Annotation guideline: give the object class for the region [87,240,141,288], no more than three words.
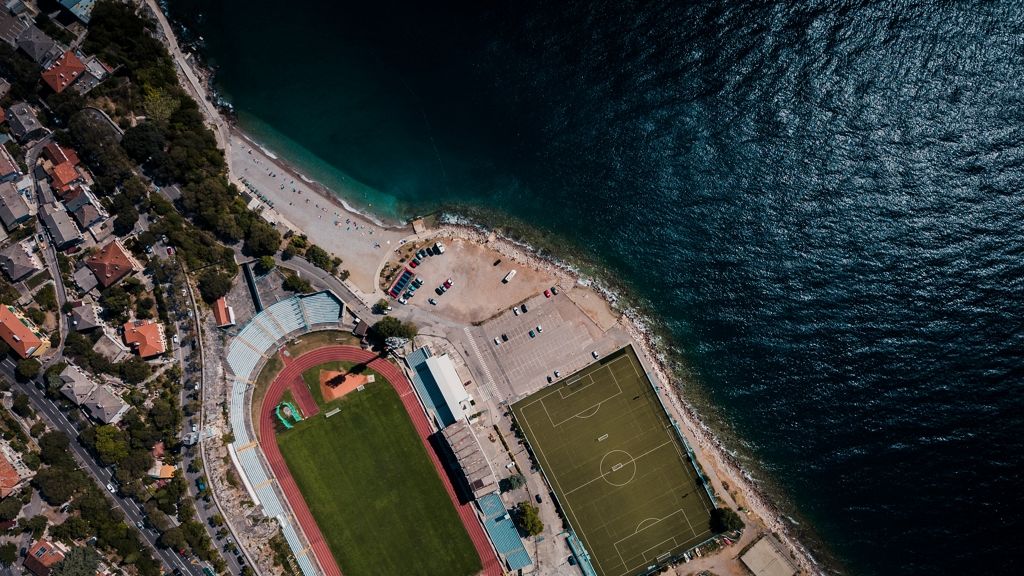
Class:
house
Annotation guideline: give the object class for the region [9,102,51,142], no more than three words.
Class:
house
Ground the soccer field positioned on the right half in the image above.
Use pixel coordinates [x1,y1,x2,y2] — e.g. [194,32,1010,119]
[513,346,718,576]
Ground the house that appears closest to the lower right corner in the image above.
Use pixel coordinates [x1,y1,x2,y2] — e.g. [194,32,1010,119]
[739,535,800,576]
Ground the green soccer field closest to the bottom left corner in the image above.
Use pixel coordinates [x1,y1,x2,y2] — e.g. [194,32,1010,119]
[274,361,485,576]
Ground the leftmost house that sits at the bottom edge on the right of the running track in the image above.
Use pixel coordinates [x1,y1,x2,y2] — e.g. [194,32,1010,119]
[566,532,597,576]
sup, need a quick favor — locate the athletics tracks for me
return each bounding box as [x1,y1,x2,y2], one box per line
[259,345,507,576]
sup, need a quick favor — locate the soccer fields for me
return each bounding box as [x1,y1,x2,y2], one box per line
[274,361,485,576]
[513,346,718,576]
